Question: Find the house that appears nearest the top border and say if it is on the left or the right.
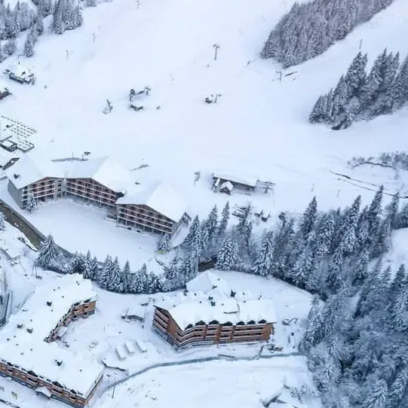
left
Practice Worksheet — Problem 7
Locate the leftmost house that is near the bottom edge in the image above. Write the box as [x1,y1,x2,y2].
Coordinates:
[0,272,106,408]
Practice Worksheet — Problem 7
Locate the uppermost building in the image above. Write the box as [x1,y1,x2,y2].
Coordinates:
[9,60,41,84]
